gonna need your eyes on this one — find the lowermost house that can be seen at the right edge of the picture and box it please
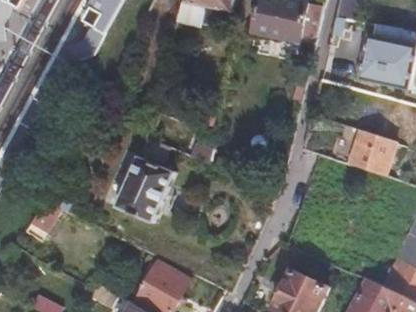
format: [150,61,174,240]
[347,278,416,312]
